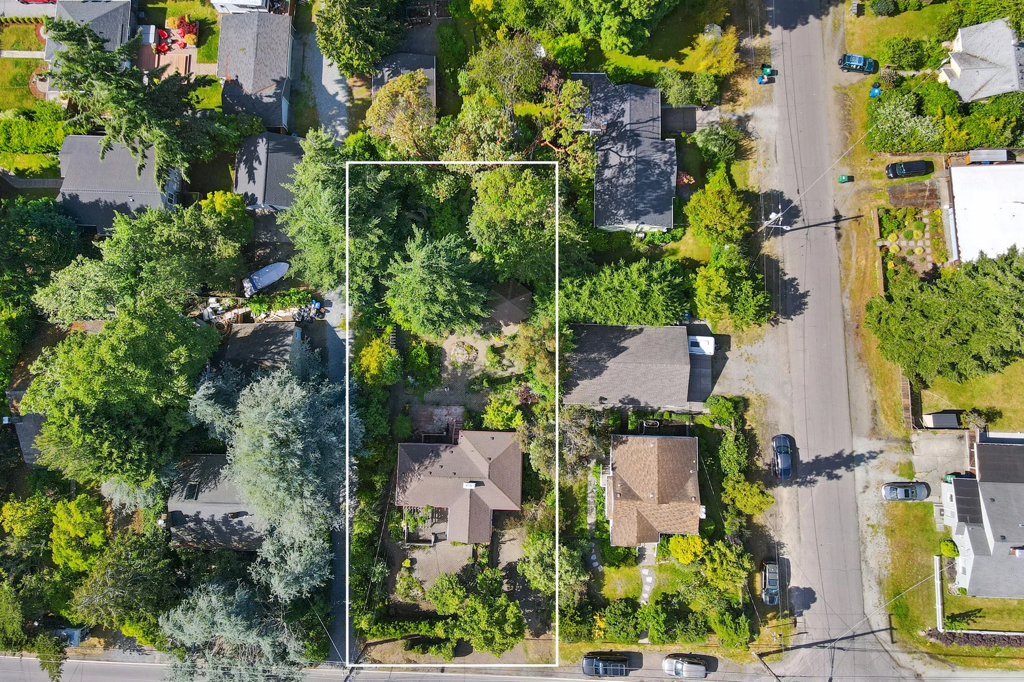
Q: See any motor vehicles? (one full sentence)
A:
Yes, a motor vehicle can be made out from above.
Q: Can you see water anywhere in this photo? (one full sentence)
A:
No, no water is visible.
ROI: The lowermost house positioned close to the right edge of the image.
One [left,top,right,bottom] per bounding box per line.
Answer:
[940,442,1024,598]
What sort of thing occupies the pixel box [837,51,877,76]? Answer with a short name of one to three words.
car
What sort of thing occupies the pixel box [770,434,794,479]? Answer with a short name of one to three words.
car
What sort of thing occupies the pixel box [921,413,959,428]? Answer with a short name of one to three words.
shed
